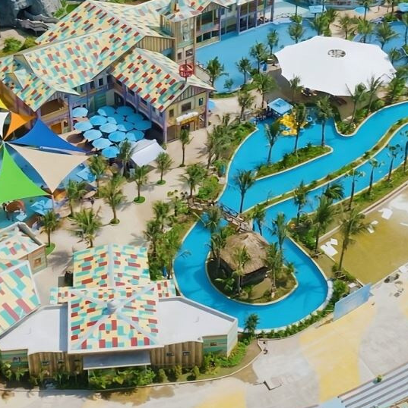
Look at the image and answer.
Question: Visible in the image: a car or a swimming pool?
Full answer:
This aerial view contains a swimming pool.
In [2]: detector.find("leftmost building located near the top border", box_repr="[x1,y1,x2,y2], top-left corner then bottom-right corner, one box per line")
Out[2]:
[0,0,276,147]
